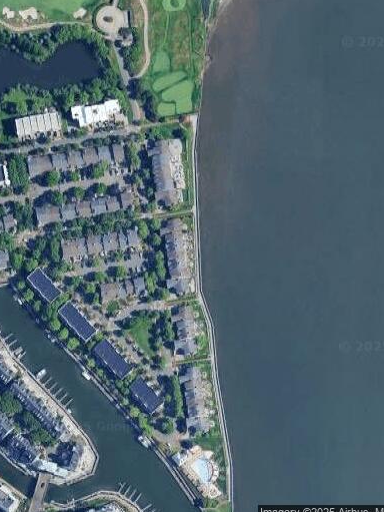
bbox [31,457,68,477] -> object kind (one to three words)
building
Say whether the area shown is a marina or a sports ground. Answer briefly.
marina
